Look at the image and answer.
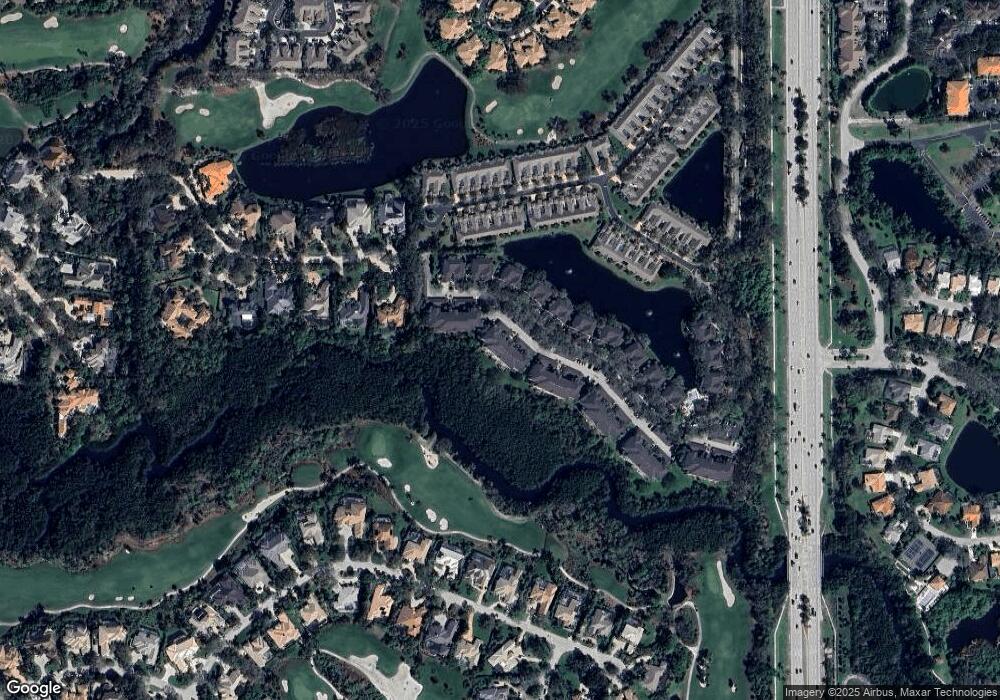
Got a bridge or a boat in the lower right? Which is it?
bridge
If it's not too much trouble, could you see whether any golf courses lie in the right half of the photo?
Yes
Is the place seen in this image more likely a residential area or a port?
residential area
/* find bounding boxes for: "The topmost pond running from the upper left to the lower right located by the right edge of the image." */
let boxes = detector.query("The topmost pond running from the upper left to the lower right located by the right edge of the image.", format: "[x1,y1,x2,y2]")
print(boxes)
[870,156,957,240]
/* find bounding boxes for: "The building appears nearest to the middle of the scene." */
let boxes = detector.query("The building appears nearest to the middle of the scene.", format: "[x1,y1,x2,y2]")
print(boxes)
[478,321,532,371]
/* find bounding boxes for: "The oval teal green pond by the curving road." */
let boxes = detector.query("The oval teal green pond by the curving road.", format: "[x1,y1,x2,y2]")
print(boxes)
[869,67,931,114]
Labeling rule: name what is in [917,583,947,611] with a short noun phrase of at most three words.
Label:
swimming pool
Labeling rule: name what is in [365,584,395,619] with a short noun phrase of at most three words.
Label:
house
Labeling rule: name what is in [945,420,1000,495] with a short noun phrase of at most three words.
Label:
pond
